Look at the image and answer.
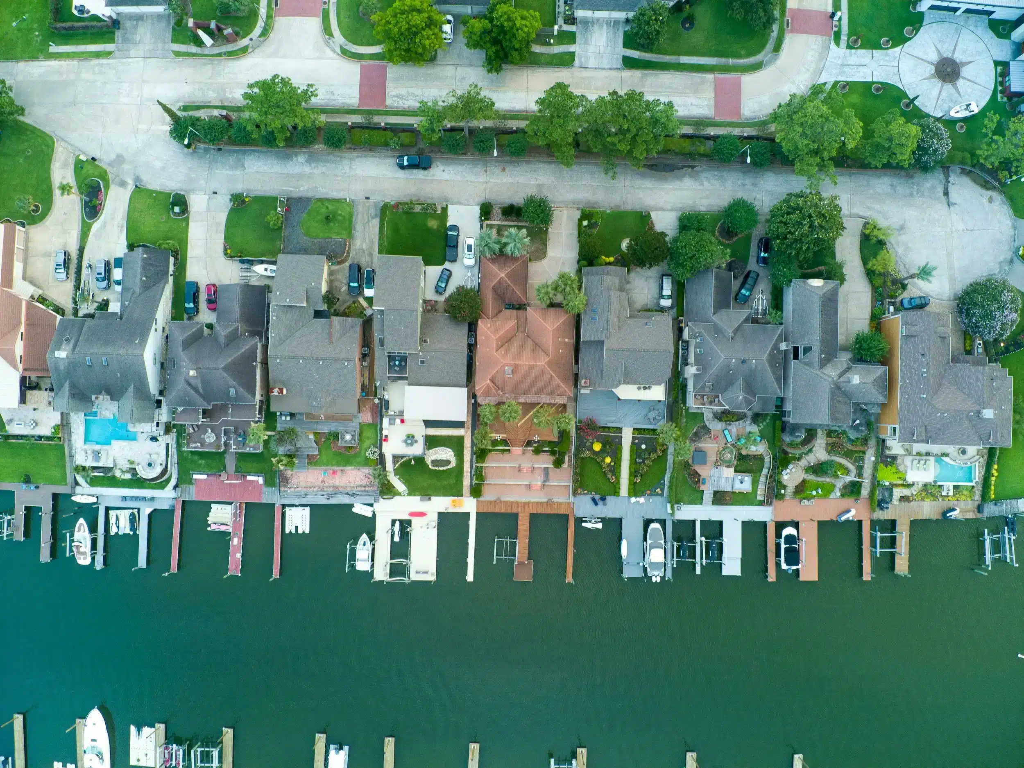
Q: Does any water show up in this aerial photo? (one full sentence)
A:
Yes, water can be seen from above here.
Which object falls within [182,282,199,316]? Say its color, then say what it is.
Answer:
blue vehicle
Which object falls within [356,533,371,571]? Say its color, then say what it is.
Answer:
white boat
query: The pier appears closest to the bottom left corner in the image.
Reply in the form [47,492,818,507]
[1,714,30,768]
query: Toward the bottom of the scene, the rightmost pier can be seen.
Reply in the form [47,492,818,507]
[983,497,1024,518]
